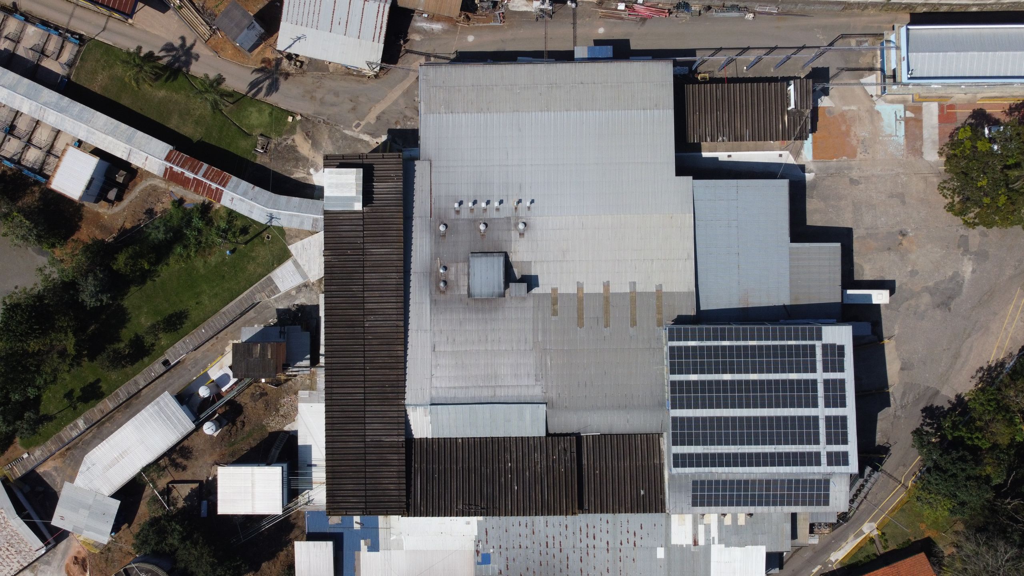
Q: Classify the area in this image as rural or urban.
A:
urban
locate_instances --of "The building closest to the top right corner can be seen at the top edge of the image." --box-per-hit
[874,23,1024,100]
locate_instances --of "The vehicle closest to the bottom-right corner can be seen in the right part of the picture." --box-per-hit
[842,290,886,303]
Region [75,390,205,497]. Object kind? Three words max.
shed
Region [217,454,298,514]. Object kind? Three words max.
building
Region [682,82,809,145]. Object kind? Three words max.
shed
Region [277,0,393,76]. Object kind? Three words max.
building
